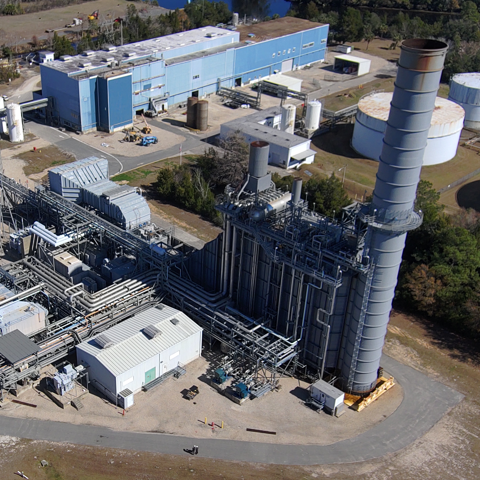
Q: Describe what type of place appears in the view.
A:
industrial area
